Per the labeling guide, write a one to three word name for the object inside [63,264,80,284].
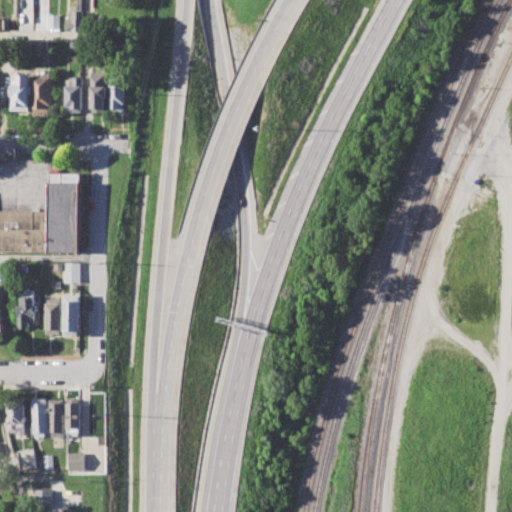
building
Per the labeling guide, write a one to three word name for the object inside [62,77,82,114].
house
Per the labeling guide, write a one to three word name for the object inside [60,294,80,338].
house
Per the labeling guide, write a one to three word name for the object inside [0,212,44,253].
building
